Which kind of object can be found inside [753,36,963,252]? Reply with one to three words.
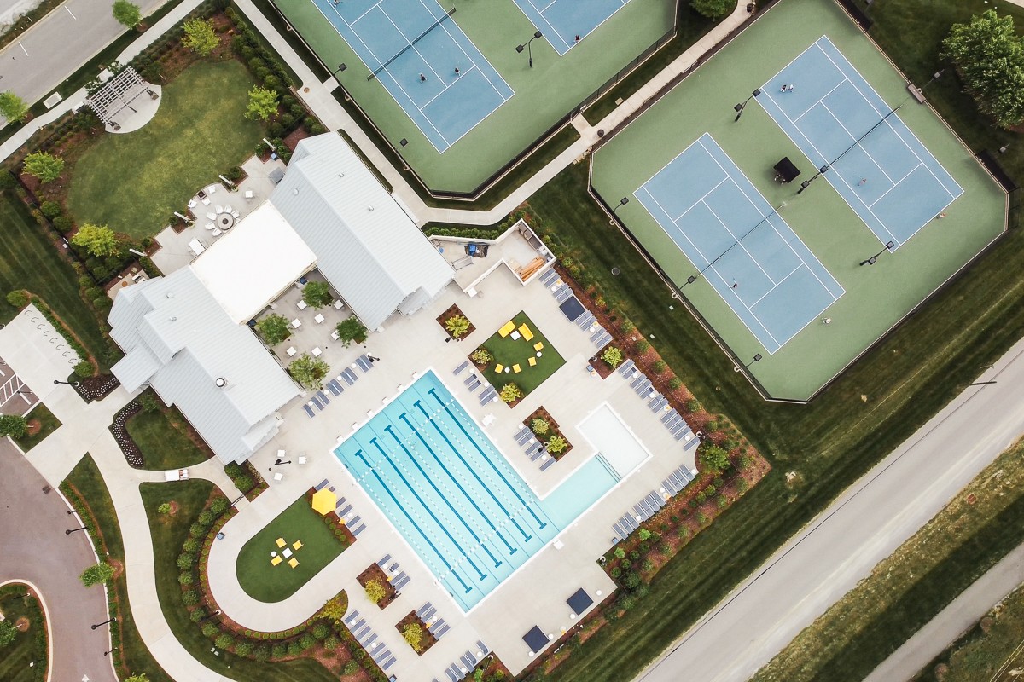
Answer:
tennis court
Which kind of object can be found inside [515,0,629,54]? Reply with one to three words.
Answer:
tennis court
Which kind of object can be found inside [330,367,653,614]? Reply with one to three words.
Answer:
swimming pool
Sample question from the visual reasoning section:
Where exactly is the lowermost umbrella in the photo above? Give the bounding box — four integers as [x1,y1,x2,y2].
[522,625,550,654]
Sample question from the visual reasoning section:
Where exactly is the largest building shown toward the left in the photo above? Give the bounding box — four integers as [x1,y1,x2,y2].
[107,128,456,465]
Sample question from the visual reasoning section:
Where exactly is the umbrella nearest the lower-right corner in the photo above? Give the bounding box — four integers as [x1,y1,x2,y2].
[567,587,594,615]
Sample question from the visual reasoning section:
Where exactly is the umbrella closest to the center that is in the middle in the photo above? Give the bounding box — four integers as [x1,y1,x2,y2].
[560,295,586,322]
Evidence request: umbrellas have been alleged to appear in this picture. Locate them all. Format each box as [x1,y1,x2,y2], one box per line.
[312,488,337,516]
[522,625,550,654]
[560,295,586,322]
[567,587,594,615]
